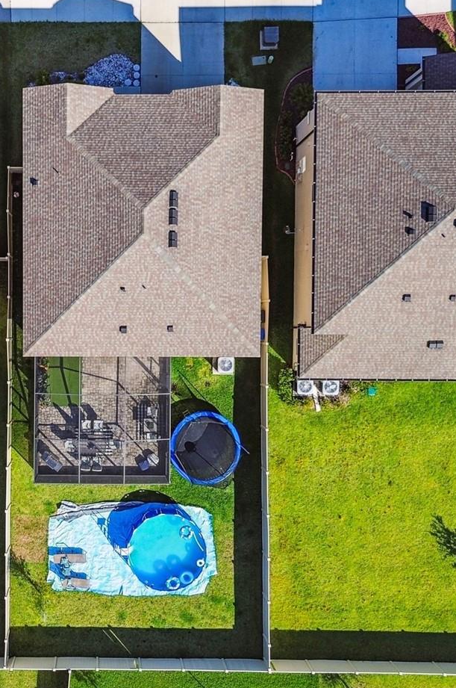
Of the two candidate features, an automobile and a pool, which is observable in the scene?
pool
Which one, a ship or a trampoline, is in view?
trampoline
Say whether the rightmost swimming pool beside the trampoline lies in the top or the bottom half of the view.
bottom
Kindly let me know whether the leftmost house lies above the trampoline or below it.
above it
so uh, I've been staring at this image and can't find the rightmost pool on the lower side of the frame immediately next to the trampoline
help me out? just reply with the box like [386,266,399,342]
[126,507,208,592]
